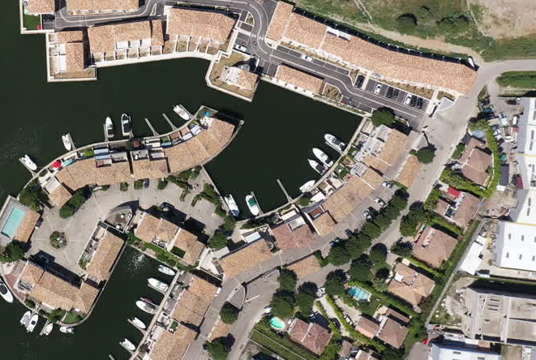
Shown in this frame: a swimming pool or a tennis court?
swimming pool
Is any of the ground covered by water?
Yes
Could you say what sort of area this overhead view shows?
residential area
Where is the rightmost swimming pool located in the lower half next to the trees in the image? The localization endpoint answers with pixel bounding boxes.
[346,287,373,303]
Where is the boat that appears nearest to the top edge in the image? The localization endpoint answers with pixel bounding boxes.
[172,103,188,119]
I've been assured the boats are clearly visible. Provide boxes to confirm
[157,265,174,274]
[308,159,325,174]
[44,323,53,337]
[20,310,30,327]
[133,315,146,328]
[26,314,37,333]
[299,181,314,192]
[226,193,238,216]
[245,194,258,215]
[148,279,170,292]
[172,103,188,119]
[60,327,75,333]
[122,338,135,350]
[22,154,34,169]
[62,133,71,150]
[323,134,344,152]
[0,277,11,302]
[106,117,113,140]
[313,148,333,166]
[136,301,158,315]
[123,114,131,138]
